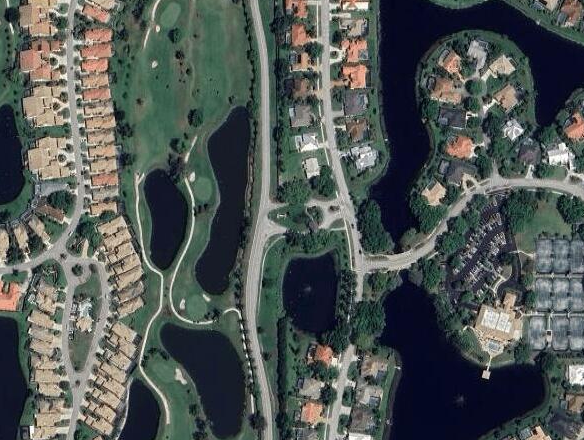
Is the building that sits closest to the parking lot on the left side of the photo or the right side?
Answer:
right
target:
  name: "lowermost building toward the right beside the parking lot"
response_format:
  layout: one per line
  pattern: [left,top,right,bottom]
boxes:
[473,299,521,338]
